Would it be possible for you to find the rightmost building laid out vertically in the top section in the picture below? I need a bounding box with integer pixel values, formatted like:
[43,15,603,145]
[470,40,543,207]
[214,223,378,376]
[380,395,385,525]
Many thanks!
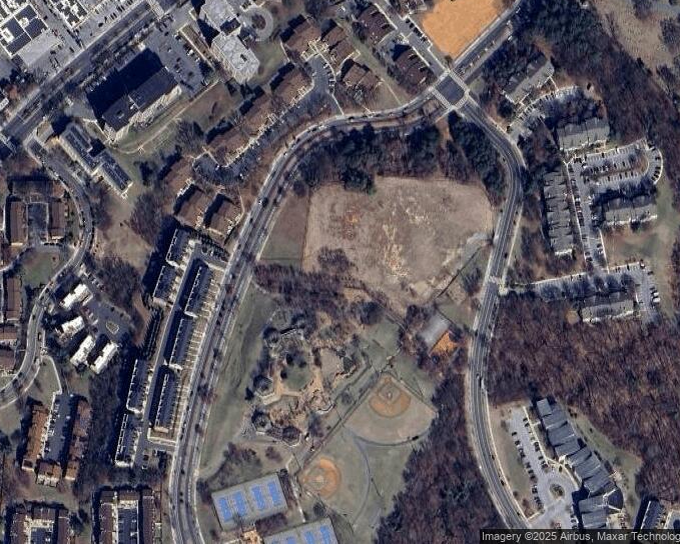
[544,171,574,258]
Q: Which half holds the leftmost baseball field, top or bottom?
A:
bottom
